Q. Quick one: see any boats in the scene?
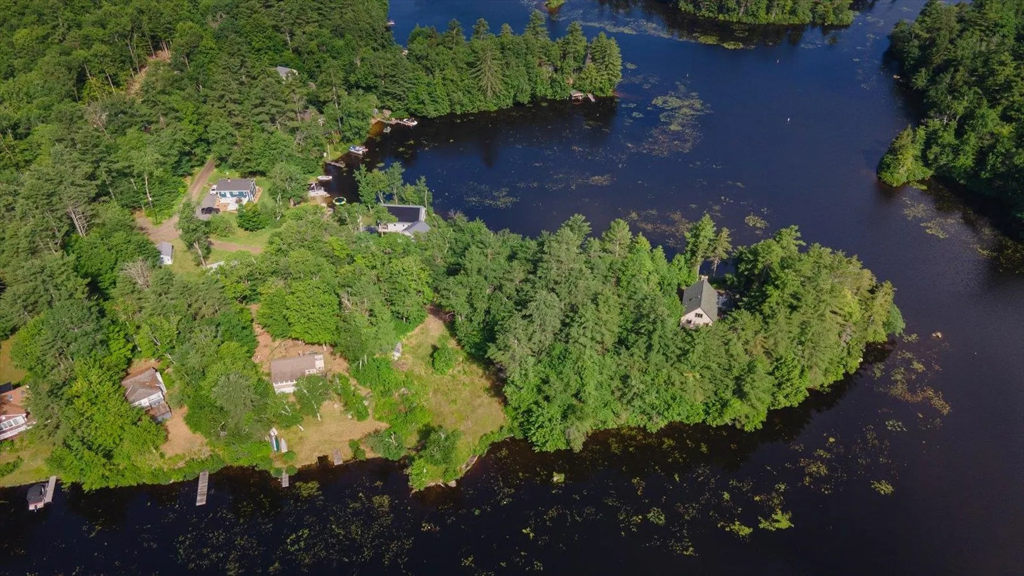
Yes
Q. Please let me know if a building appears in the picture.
Yes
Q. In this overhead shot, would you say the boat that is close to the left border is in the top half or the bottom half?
bottom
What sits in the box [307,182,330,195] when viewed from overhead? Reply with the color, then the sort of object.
white boat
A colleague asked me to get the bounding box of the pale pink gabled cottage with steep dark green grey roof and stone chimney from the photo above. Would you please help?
[676,275,731,332]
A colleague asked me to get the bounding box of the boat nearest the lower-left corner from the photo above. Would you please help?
[24,481,48,510]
